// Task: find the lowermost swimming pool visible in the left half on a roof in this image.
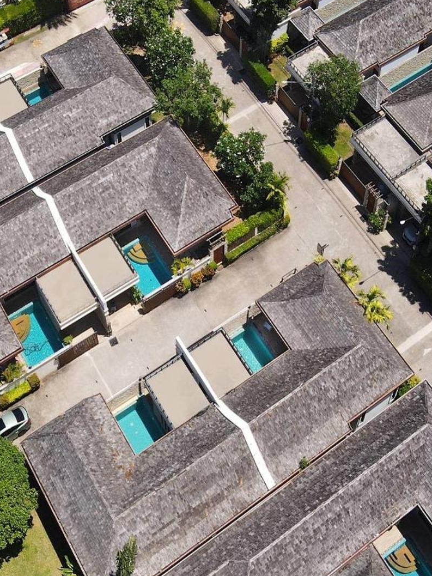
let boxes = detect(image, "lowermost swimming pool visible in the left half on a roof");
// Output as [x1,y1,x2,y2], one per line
[114,393,171,451]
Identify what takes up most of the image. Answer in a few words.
buildings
